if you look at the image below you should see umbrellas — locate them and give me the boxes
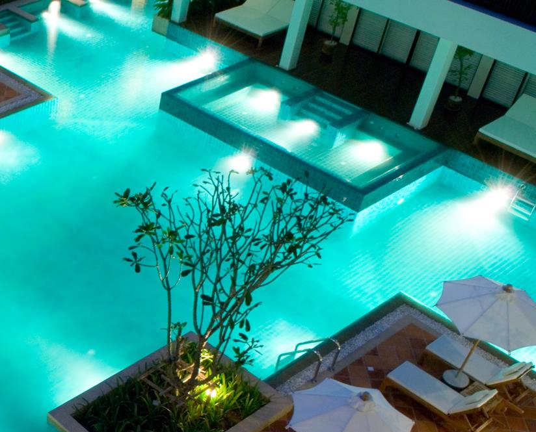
[429,275,536,390]
[281,375,421,432]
